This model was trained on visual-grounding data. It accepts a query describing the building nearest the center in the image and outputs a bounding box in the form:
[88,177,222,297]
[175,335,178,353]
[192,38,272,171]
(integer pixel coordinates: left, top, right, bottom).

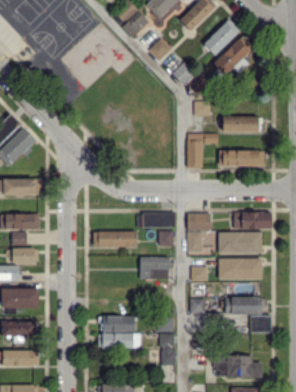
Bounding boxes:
[136,211,174,226]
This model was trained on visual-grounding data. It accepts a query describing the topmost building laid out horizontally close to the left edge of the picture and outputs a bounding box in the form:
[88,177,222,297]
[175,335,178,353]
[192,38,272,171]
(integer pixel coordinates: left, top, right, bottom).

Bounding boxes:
[0,178,38,196]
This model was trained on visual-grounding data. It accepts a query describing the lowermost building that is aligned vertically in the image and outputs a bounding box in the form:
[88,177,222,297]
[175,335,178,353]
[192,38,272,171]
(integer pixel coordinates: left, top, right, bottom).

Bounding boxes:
[160,333,174,366]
